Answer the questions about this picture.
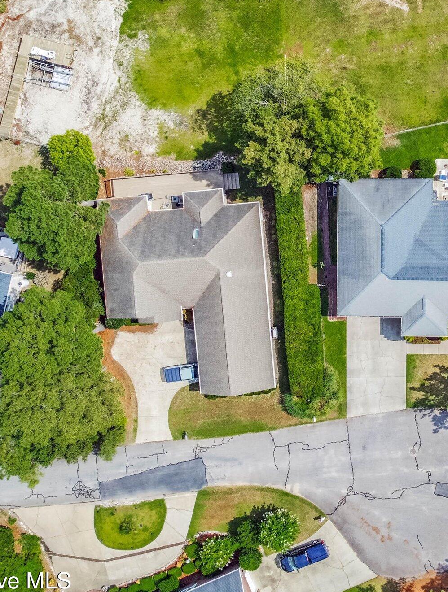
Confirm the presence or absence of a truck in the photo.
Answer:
Yes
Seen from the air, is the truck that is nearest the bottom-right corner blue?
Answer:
Yes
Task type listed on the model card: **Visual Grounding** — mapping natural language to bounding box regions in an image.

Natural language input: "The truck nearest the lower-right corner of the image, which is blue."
[273,542,331,579]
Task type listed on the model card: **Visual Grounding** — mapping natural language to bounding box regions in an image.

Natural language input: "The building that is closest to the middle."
[97,188,278,396]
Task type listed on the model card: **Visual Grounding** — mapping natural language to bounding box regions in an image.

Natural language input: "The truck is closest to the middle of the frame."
[158,363,199,388]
